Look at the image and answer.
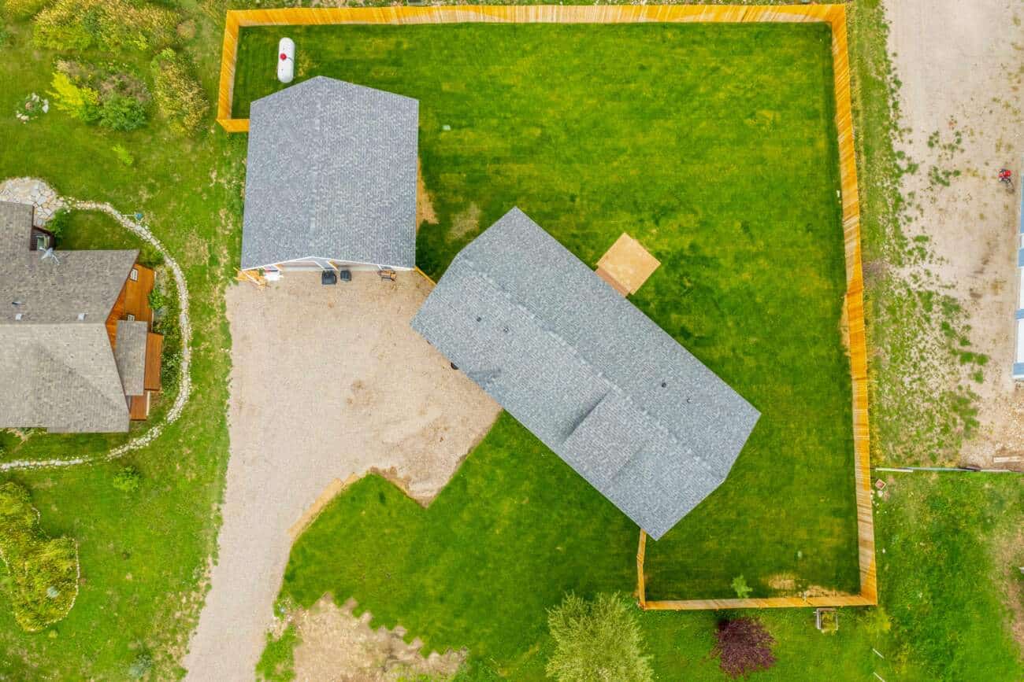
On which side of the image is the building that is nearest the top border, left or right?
left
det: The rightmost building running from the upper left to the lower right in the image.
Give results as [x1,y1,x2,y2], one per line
[410,206,763,541]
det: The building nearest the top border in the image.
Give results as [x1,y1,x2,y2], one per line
[241,75,420,272]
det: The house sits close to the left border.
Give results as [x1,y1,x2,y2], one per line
[0,202,149,432]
